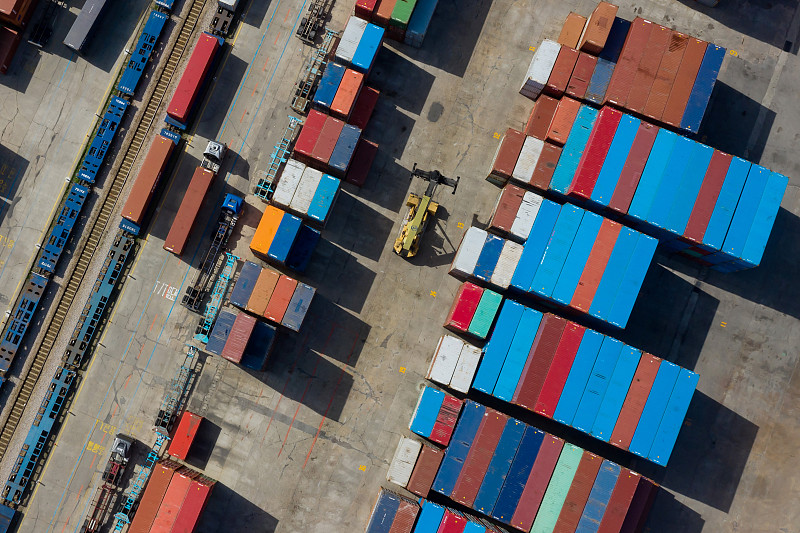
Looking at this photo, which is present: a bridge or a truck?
truck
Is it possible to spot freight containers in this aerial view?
Yes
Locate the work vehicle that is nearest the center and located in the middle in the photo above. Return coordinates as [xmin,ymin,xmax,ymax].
[391,158,462,263]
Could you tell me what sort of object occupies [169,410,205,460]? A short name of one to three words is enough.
shipping container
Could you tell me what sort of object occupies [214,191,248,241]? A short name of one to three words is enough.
truck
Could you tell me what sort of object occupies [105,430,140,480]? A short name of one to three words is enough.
truck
